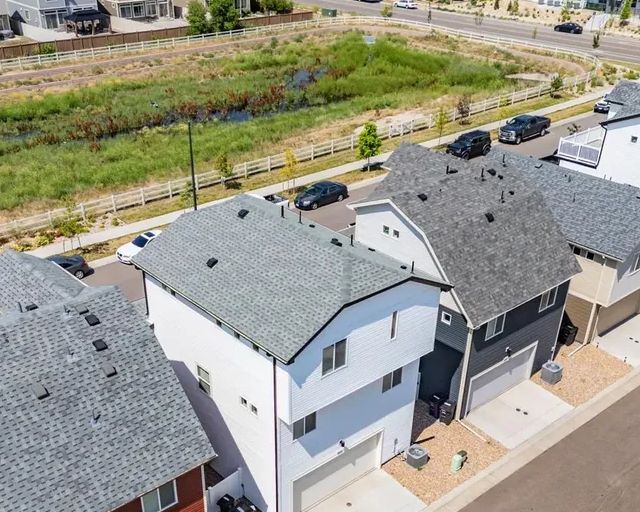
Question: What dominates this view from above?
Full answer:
What you mostly see from above here is buildings.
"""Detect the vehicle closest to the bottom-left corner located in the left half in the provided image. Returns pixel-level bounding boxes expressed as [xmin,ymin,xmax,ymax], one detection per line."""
[34,248,93,276]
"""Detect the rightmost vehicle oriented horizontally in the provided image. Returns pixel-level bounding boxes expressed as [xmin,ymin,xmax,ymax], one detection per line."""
[546,19,582,33]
